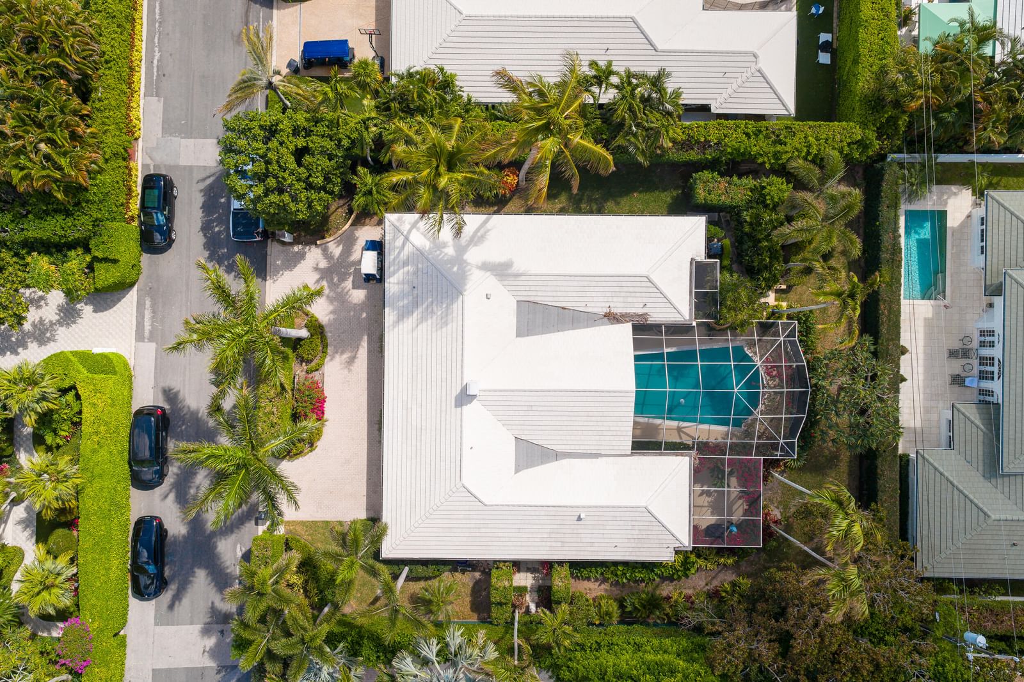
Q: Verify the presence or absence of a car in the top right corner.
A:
No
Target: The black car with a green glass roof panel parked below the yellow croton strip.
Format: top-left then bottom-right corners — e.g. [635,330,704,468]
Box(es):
[135,173,179,250]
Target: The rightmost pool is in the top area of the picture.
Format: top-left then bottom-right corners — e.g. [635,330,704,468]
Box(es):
[900,205,956,307]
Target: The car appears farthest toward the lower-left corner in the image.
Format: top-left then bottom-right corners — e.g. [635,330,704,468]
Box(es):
[123,517,167,599]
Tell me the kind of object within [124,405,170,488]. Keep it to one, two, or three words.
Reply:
car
